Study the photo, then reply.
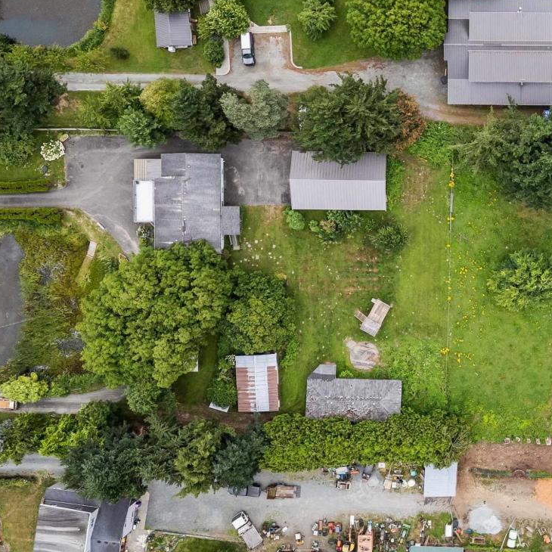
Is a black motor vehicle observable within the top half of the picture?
No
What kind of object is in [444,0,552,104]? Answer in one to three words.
barn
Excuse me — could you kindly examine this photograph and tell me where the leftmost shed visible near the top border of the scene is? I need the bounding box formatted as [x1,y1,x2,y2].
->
[155,9,196,48]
